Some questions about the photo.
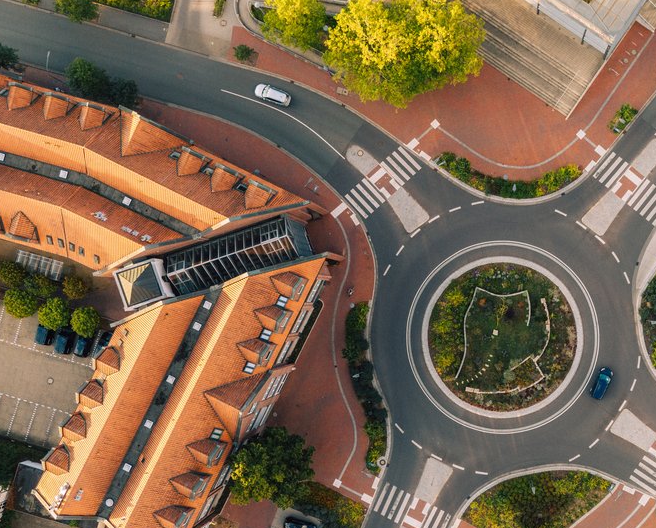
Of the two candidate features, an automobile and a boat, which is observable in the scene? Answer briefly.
automobile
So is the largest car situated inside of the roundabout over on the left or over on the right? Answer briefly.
right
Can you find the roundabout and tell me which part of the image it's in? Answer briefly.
right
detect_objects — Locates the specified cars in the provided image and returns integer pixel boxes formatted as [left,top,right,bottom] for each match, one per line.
[52,320,75,355]
[254,83,294,108]
[73,330,96,360]
[589,366,611,399]
[34,320,55,347]
[282,515,318,528]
